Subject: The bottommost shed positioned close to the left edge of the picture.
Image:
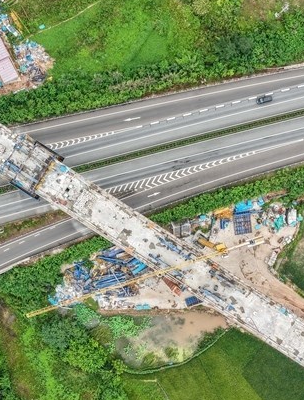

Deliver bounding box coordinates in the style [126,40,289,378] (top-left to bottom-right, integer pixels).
[0,58,19,84]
